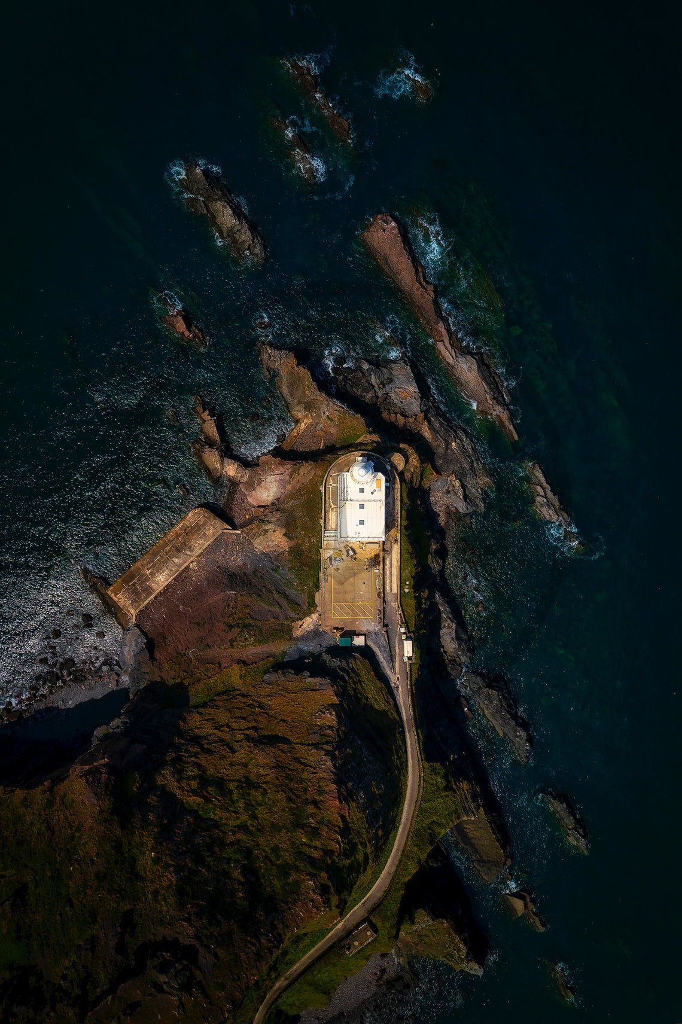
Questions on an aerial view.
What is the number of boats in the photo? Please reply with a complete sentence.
Not a single boat can be seen.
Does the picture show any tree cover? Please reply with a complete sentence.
No, there is no tree cover in the image.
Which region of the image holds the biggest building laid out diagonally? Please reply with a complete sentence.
The biggest building laid out diagonally appears toward the bottom of the photo.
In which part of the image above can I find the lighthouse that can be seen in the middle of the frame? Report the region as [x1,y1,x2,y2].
[338,457,389,541]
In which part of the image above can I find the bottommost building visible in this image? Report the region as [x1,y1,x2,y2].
[341,917,378,956]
